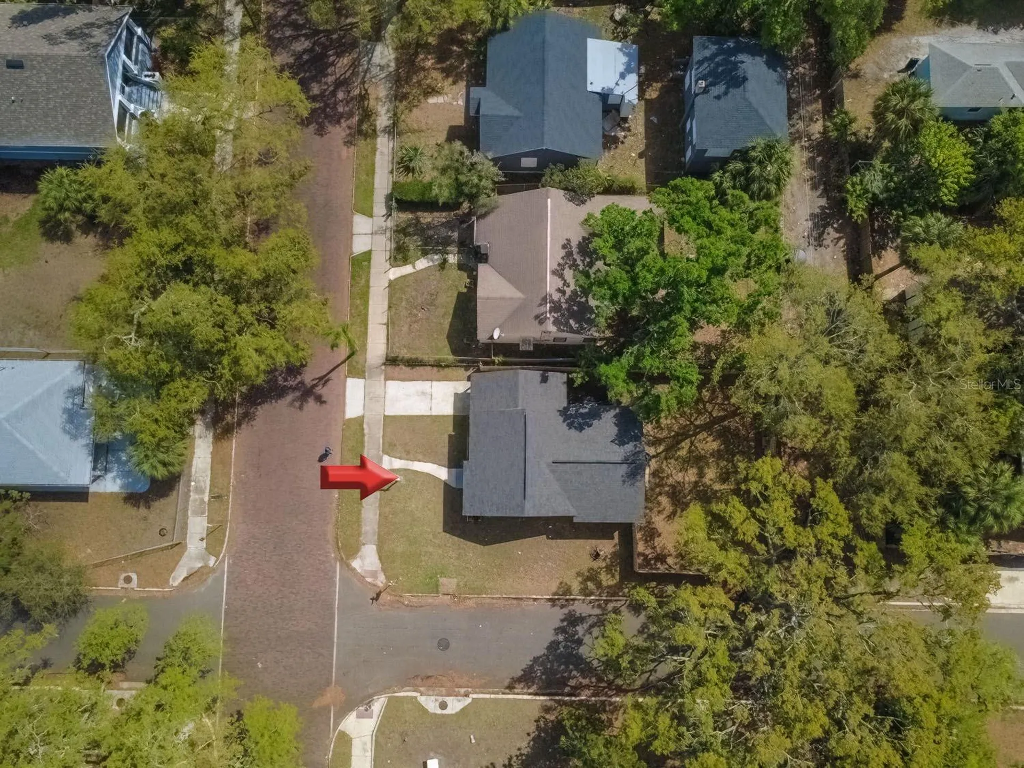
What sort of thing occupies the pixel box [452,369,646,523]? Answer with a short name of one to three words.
house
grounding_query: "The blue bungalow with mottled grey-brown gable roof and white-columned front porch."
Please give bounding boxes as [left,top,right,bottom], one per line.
[0,4,176,161]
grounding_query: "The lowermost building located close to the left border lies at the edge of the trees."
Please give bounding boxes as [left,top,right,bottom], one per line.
[0,360,108,488]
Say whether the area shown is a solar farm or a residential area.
residential area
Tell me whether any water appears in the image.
No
